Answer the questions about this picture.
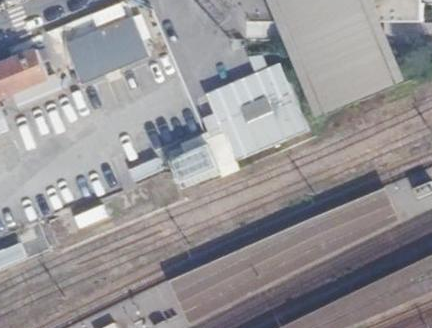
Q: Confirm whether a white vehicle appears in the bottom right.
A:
No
